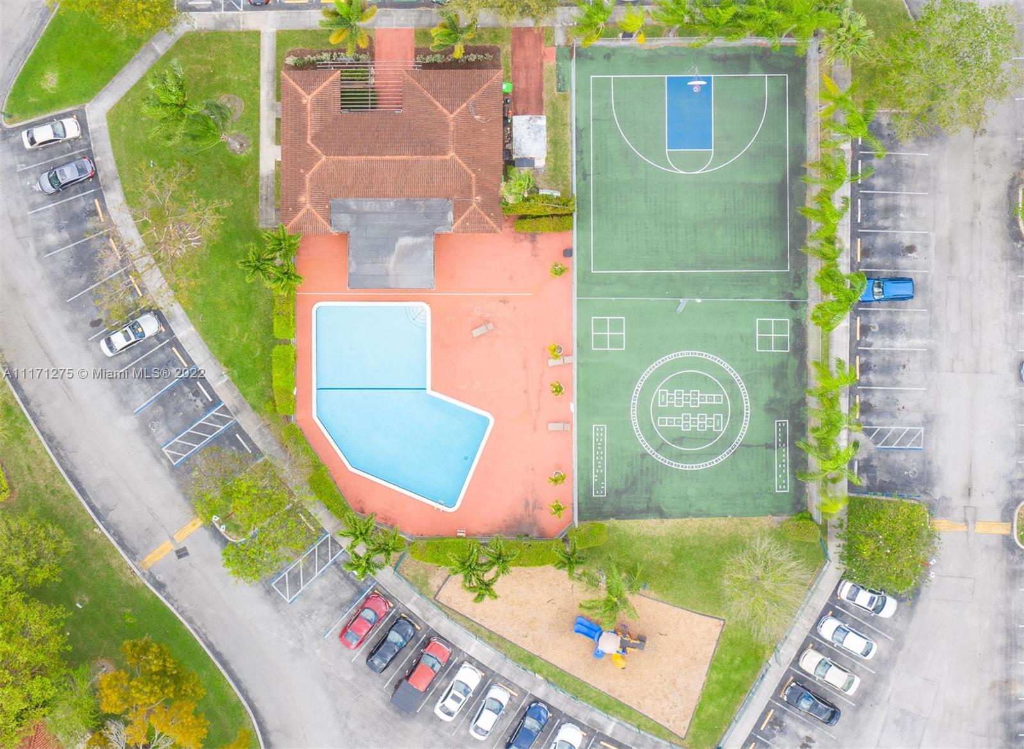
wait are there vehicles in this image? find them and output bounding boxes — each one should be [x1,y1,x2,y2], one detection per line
[97,310,165,358]
[432,0,449,5]
[814,613,879,661]
[795,648,862,698]
[835,578,897,616]
[780,679,843,728]
[544,718,579,749]
[390,632,451,715]
[468,681,511,741]
[38,158,99,195]
[502,697,546,749]
[434,659,483,721]
[339,590,389,649]
[366,613,416,672]
[22,116,84,150]
[856,276,913,304]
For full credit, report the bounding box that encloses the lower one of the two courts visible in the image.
[576,298,808,521]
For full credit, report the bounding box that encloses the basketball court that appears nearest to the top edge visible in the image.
[576,47,808,299]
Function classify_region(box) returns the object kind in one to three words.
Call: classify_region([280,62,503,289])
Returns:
building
